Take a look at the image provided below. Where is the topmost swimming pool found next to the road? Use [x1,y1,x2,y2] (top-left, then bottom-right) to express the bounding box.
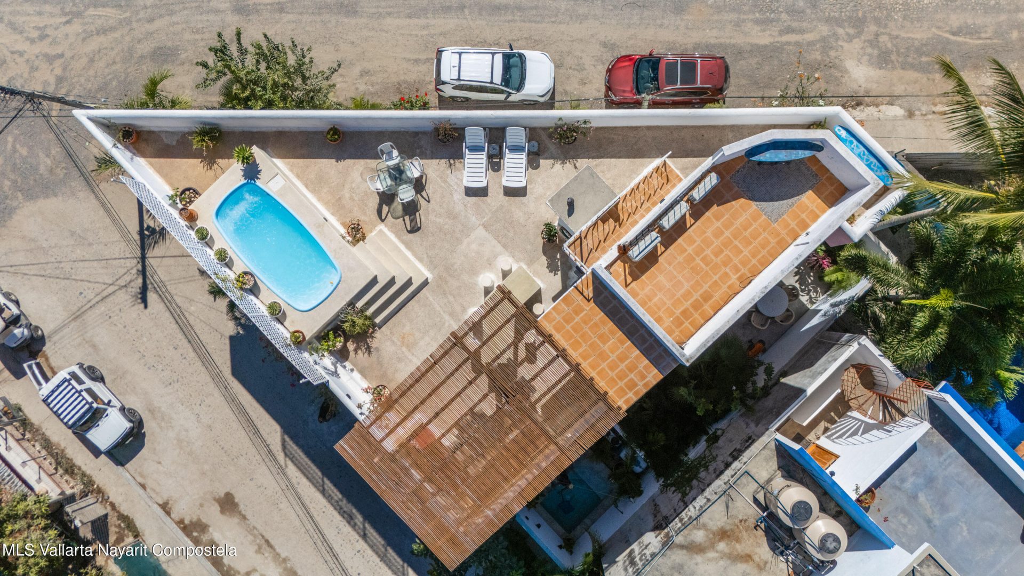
[191,146,429,339]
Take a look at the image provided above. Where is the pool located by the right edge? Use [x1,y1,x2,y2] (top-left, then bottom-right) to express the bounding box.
[936,326,1024,455]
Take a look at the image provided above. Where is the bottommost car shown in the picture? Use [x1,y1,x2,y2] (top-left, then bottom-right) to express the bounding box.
[10,365,149,461]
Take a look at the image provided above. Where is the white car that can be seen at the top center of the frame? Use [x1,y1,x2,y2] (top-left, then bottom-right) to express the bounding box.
[440,43,557,104]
